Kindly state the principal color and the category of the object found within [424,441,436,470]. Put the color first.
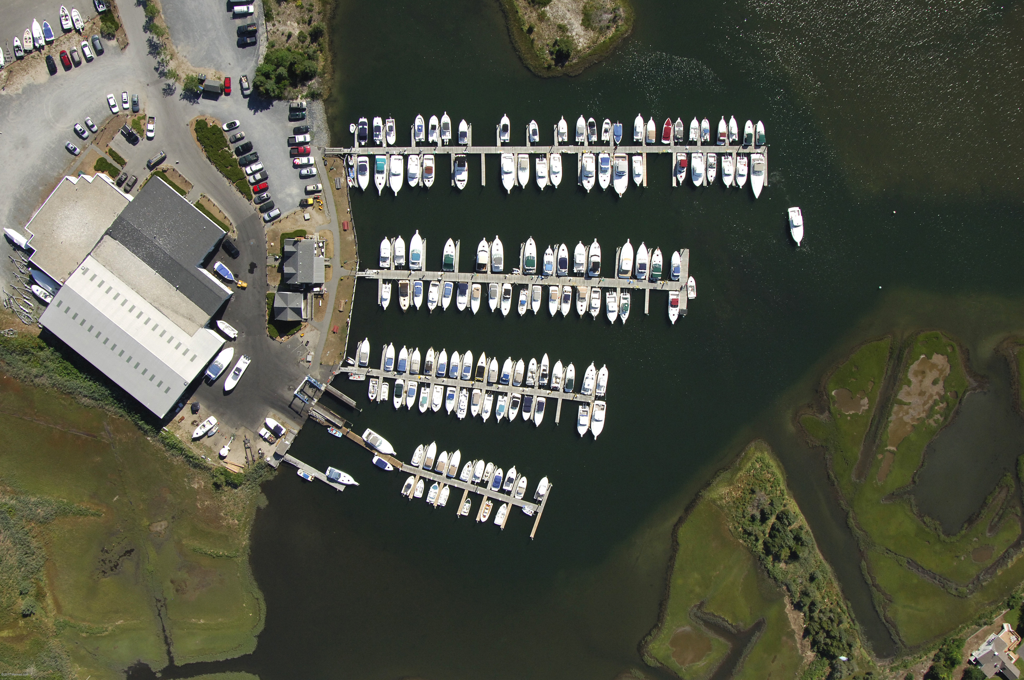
white boat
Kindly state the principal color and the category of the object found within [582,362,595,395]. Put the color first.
white boat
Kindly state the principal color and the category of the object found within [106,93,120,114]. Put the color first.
white car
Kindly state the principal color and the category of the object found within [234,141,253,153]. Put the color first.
black vehicle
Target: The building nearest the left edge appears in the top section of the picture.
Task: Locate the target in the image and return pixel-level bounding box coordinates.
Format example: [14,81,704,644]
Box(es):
[25,173,133,286]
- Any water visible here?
Yes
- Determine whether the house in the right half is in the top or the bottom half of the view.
bottom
